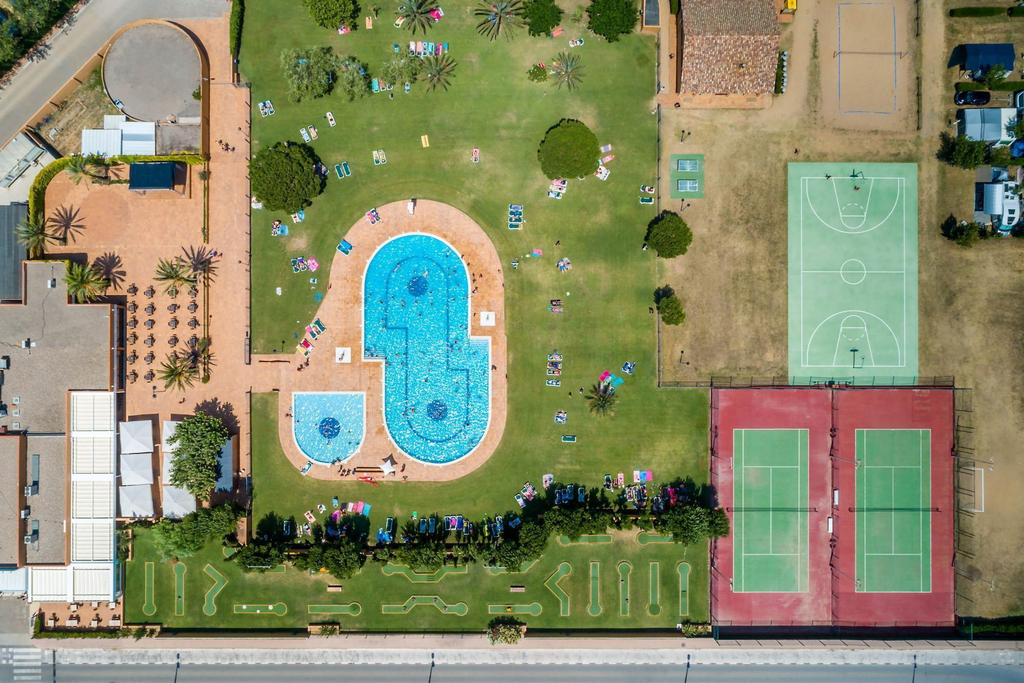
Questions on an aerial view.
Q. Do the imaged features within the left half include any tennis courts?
No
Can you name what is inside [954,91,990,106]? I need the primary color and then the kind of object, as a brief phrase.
black car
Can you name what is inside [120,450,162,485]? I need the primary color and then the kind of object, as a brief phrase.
white tent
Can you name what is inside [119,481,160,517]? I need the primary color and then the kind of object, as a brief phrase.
white tent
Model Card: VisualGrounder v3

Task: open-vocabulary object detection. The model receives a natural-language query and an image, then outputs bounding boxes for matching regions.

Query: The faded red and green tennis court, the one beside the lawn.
[712,387,832,626]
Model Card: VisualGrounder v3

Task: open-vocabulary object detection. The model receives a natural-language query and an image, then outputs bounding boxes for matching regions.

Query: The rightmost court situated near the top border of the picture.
[838,3,897,113]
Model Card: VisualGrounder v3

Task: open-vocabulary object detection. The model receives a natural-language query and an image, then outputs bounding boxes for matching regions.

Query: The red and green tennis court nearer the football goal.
[832,387,955,626]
